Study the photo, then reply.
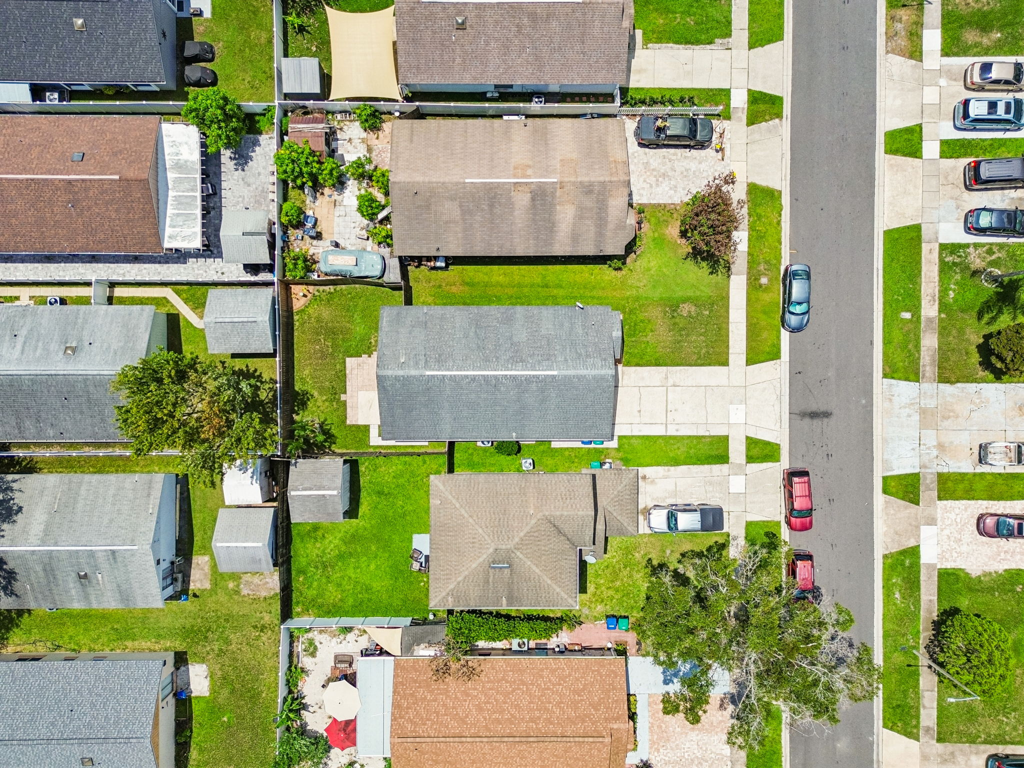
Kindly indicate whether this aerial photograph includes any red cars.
Yes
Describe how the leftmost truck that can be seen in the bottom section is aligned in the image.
from left to right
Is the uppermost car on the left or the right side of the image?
right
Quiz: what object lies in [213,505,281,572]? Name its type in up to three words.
shed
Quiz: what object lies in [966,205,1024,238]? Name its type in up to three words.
car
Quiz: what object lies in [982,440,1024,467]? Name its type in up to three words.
truck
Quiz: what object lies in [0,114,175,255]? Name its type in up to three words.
house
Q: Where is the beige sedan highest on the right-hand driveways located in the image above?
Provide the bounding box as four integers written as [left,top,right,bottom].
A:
[966,58,1024,94]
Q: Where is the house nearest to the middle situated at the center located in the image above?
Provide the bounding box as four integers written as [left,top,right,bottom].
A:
[377,306,622,442]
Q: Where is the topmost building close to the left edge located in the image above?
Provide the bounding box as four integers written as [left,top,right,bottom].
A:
[0,0,178,92]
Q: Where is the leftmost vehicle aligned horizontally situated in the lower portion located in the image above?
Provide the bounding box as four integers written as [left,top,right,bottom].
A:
[645,502,724,536]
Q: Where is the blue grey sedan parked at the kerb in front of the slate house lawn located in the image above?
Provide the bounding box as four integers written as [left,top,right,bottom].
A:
[779,263,814,334]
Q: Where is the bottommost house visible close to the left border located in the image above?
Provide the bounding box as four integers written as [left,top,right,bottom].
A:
[0,652,178,768]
